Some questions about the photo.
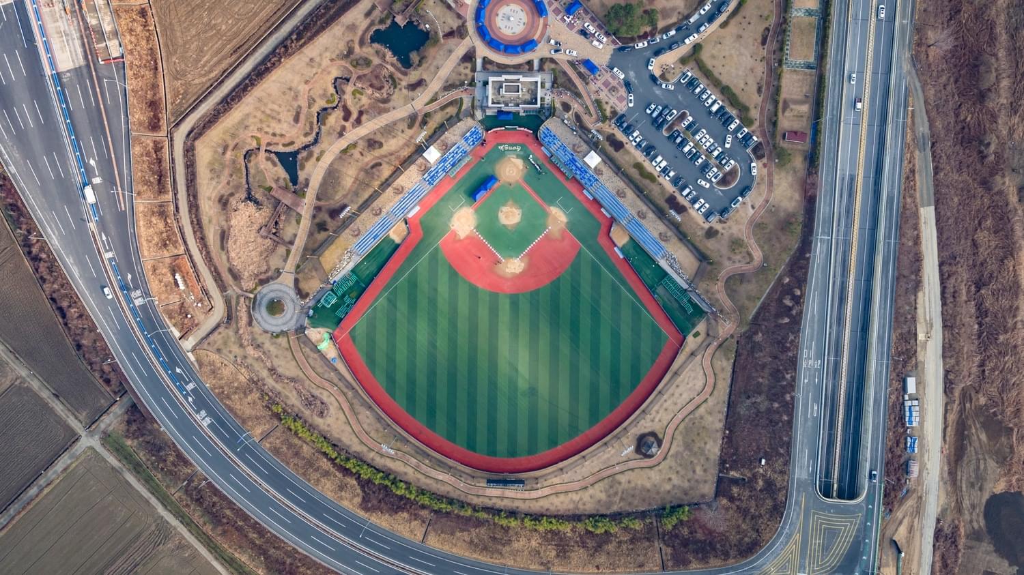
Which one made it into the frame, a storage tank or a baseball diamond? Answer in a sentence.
It is a baseball diamond that can be seen here.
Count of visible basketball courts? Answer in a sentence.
The photo contains no basketball courts.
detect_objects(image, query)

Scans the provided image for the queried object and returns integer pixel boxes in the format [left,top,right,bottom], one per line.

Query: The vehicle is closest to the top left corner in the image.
[81,185,94,203]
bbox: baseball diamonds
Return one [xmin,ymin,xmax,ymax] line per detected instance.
[333,128,684,473]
